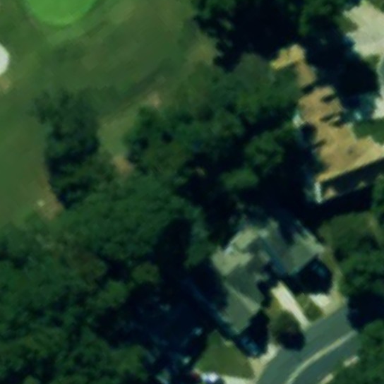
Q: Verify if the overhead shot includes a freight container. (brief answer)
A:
No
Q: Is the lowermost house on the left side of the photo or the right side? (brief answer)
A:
right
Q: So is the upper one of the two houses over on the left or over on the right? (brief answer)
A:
right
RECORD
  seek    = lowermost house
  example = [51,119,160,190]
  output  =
[205,203,329,331]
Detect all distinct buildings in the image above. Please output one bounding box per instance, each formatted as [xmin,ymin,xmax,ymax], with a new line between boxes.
[205,203,329,331]
[269,42,384,198]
